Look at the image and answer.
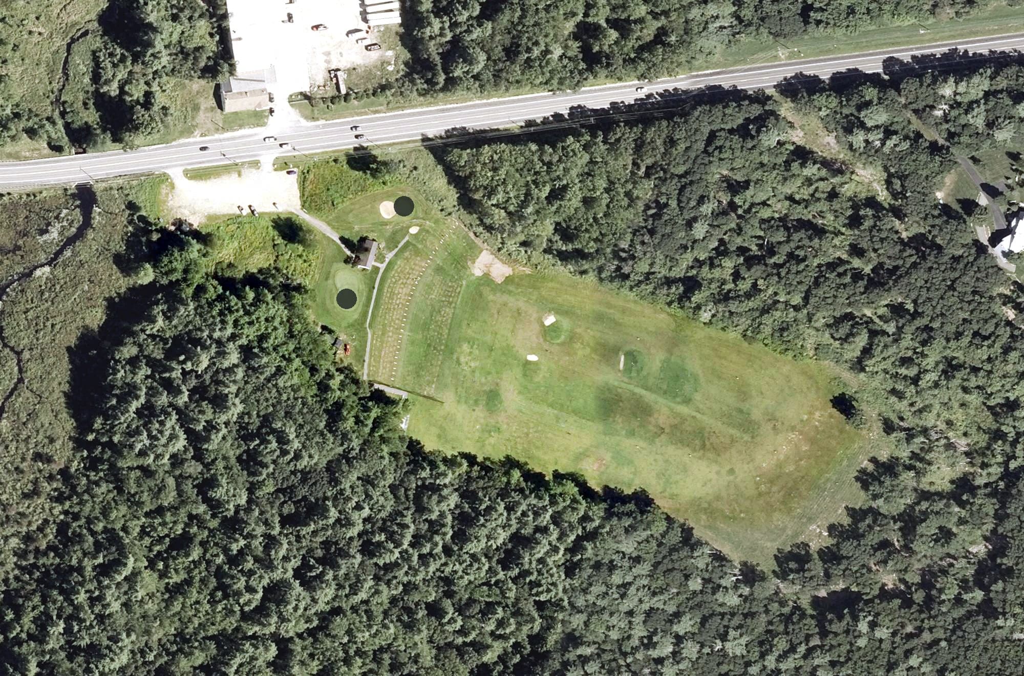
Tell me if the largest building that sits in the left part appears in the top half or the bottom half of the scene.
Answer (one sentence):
The top half of the photo is where the largest building that sits in the left part is.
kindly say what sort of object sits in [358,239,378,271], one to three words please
building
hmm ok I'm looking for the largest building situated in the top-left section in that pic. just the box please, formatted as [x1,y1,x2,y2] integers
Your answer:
[222,66,276,112]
